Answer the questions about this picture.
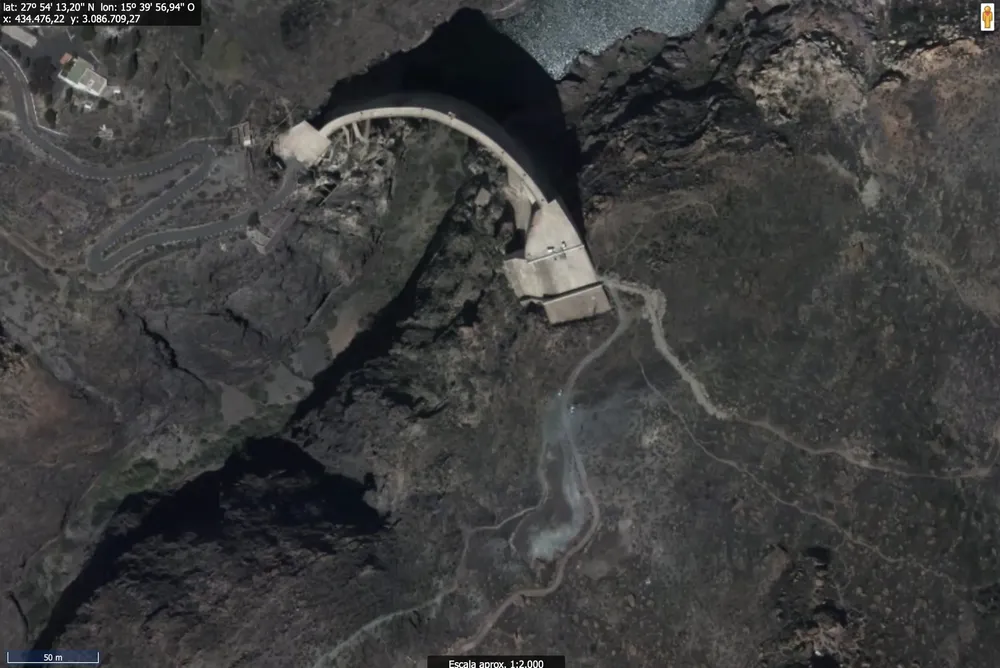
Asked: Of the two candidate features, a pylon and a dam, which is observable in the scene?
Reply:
dam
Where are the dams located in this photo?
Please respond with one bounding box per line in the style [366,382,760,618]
[317,97,603,304]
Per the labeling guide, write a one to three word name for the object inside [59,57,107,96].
house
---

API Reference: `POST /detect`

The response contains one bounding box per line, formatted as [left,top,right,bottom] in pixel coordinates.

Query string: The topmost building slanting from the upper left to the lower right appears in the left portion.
[0,19,38,48]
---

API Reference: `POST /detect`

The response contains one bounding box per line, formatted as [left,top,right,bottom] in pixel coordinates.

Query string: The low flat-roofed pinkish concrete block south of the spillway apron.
[545,286,611,324]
